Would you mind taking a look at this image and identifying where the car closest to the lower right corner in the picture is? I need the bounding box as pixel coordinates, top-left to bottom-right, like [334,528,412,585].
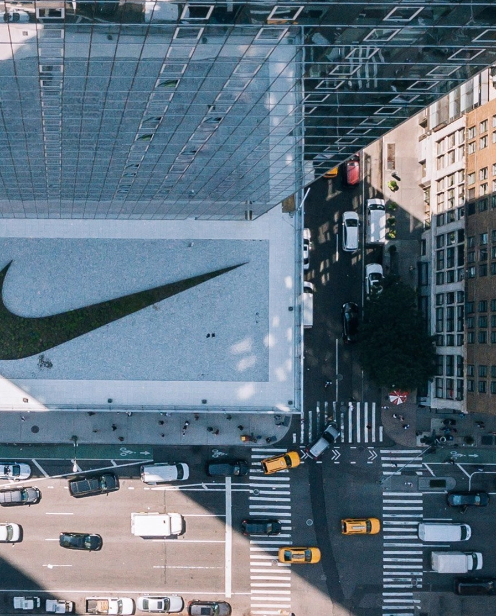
[455,575,496,598]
